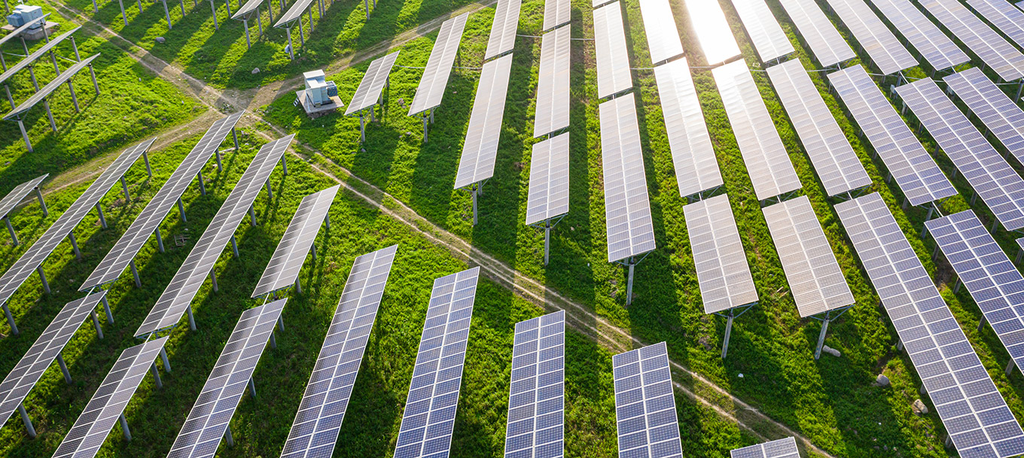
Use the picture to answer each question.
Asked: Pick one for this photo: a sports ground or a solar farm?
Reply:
solar farm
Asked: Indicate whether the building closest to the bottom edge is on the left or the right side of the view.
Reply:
left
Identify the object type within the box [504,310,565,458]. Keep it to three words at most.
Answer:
solar array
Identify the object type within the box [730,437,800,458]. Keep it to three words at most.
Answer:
solar array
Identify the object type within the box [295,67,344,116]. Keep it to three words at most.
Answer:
building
